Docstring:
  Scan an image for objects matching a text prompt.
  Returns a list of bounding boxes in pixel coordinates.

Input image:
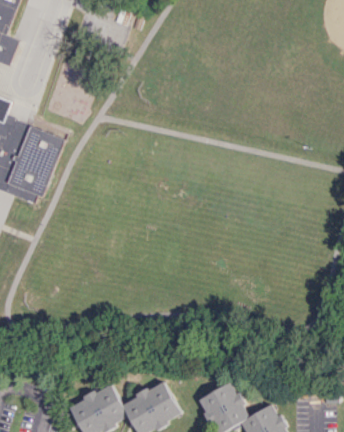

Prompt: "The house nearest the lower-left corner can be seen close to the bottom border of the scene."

[76,385,126,432]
